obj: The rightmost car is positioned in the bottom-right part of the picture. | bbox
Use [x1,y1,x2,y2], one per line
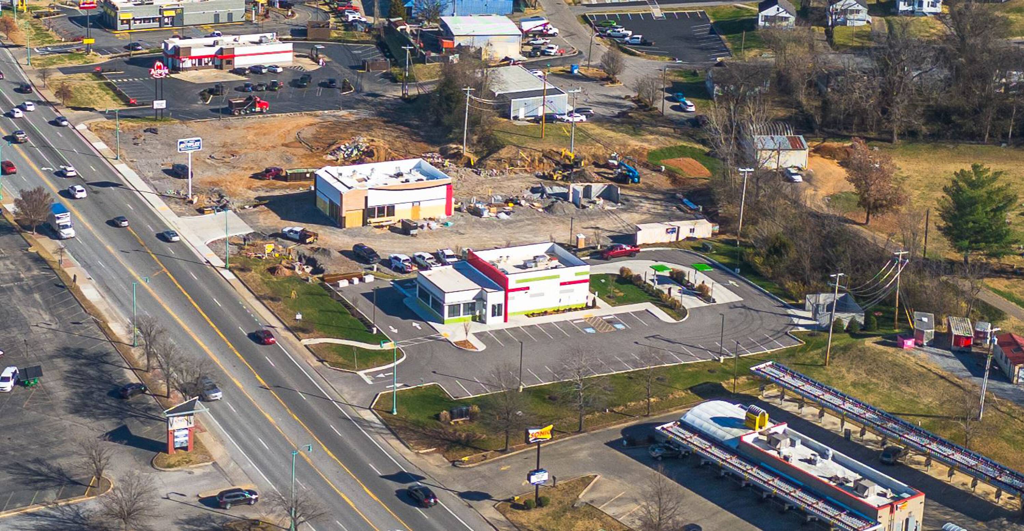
[878,440,908,465]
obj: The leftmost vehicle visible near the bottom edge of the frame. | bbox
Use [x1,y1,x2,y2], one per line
[217,485,261,507]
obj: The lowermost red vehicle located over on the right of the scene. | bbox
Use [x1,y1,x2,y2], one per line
[603,242,641,258]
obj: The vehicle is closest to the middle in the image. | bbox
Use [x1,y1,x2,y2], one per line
[434,245,459,263]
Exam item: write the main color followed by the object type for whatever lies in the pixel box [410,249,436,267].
white vehicle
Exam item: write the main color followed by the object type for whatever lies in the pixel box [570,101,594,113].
gray vehicle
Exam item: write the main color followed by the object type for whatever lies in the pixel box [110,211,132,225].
gray car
